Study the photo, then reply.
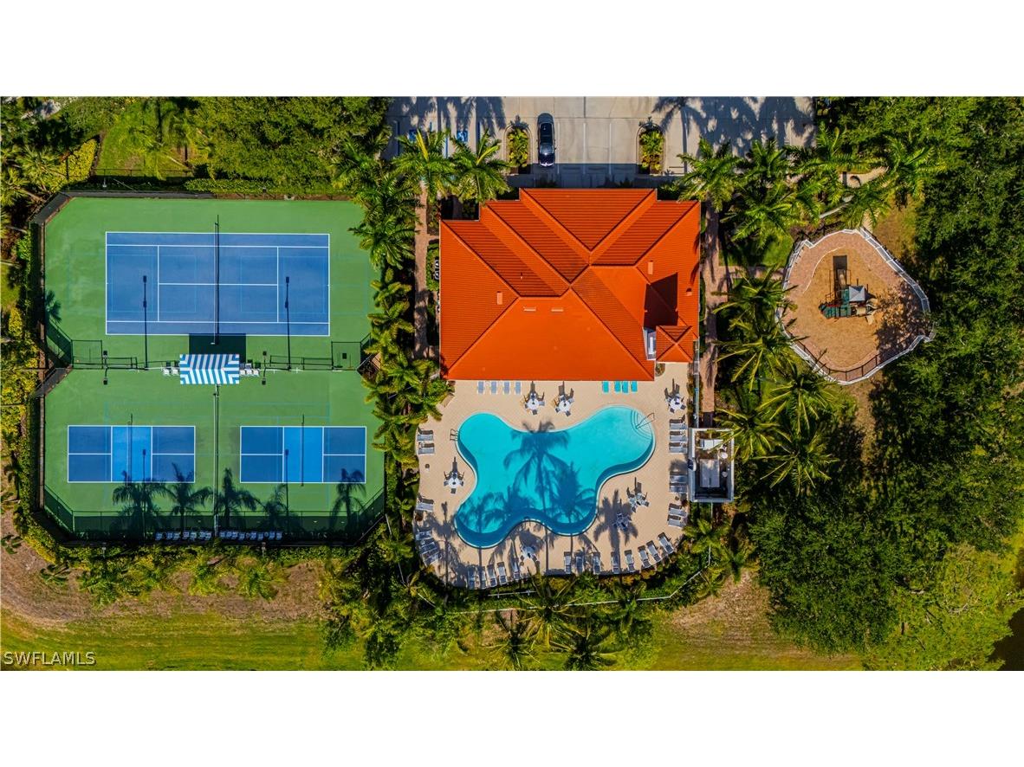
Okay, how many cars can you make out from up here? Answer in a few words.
1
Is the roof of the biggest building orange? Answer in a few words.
Yes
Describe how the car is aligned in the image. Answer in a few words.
vertically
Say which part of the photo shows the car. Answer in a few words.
top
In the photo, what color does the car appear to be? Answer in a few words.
black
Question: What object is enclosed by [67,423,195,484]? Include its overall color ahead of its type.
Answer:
blue sports court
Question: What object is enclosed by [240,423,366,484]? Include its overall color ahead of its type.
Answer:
blue sports court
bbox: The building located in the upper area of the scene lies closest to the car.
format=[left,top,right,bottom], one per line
[439,187,701,382]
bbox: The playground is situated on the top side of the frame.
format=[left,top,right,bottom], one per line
[784,231,930,381]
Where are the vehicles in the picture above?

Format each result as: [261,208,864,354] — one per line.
[535,113,556,166]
